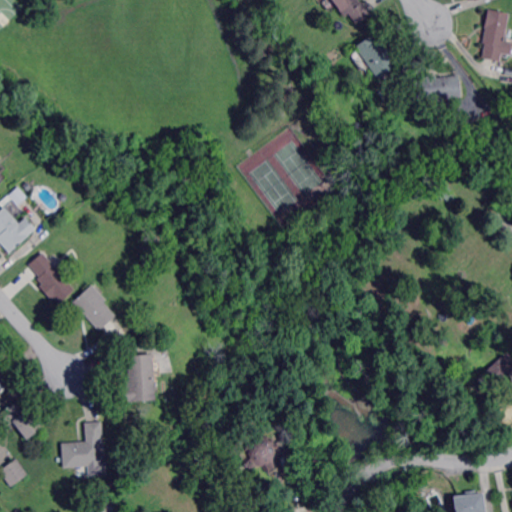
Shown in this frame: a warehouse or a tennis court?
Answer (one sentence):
Visible in the photo is a tennis court.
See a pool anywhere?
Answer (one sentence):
Yes, a pool can be made out from above.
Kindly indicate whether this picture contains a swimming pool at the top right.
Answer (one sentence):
No, looking at the top right, there is no swimming pool.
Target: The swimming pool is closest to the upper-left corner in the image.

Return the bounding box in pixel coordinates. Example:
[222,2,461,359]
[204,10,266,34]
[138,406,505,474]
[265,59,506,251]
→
[31,185,60,215]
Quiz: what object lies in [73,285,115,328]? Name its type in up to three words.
house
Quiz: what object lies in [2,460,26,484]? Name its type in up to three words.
building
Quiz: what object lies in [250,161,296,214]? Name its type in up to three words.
tennis court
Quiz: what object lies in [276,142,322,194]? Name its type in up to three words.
tennis court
